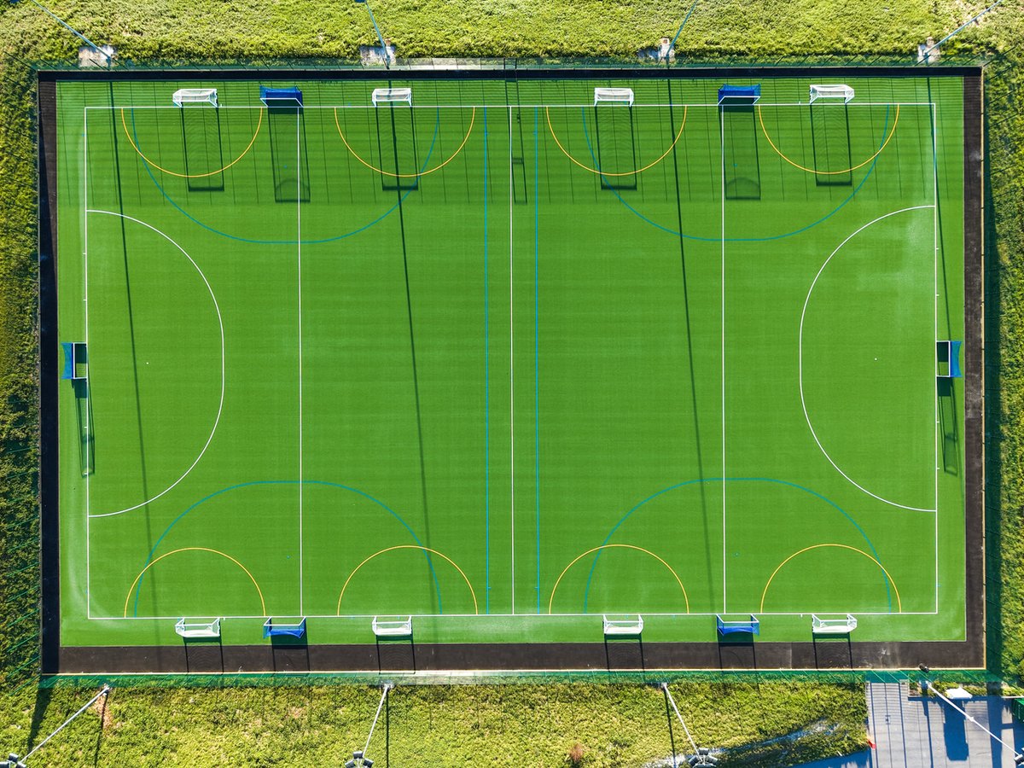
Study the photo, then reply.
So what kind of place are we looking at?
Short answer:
sports ground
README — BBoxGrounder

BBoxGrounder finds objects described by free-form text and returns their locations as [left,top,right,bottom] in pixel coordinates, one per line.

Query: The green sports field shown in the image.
[56,77,967,646]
